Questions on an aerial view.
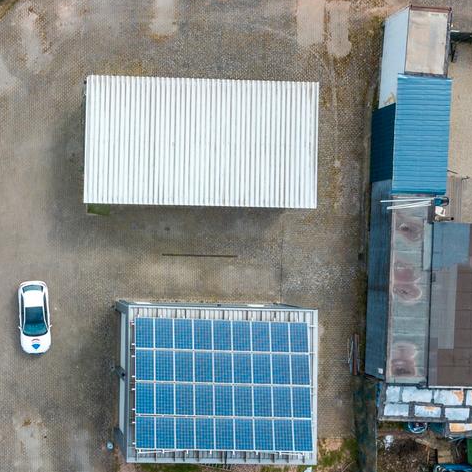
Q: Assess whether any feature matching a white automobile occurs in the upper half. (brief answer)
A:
No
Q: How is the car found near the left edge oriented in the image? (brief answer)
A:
up and down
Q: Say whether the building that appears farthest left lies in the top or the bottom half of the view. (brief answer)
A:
bottom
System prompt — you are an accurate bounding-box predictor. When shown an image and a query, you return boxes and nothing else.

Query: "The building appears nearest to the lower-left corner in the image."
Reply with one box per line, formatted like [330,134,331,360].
[114,297,318,464]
